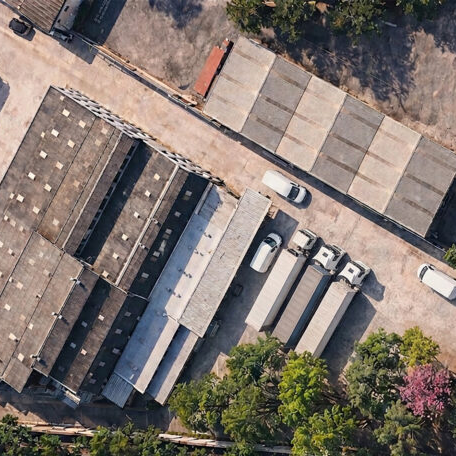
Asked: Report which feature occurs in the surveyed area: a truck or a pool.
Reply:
truck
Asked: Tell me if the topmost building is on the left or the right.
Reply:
left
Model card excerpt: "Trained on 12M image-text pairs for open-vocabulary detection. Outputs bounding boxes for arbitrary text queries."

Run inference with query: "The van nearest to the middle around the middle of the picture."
[249,235,280,271]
